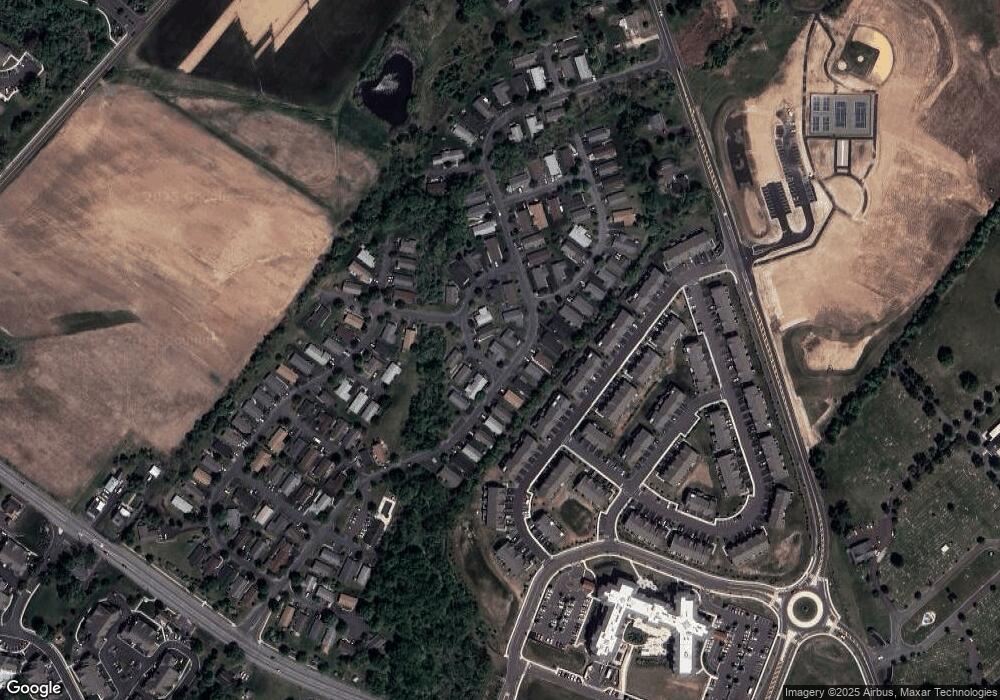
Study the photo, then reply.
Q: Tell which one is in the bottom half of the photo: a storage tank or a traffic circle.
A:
traffic circle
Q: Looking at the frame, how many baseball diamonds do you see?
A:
1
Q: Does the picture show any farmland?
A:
Yes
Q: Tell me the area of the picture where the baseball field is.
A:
top right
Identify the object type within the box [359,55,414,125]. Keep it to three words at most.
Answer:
pond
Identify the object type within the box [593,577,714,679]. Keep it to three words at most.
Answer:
building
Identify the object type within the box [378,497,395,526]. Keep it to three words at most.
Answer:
swimming pool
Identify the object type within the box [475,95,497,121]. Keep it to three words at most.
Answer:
house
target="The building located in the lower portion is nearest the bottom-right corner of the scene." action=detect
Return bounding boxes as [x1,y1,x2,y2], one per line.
[849,541,875,565]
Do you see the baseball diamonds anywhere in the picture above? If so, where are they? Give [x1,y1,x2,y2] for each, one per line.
[833,25,894,85]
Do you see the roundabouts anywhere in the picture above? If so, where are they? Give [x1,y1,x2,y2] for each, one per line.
[777,582,832,637]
